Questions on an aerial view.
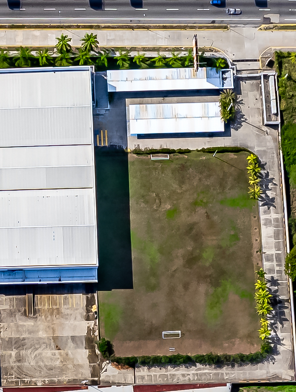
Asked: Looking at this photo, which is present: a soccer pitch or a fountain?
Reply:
soccer pitch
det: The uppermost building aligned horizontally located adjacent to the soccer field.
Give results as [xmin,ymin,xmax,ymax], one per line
[106,67,234,94]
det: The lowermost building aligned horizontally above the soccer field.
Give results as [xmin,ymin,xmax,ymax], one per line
[129,102,225,137]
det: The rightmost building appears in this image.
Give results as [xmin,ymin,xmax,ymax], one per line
[261,73,280,126]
